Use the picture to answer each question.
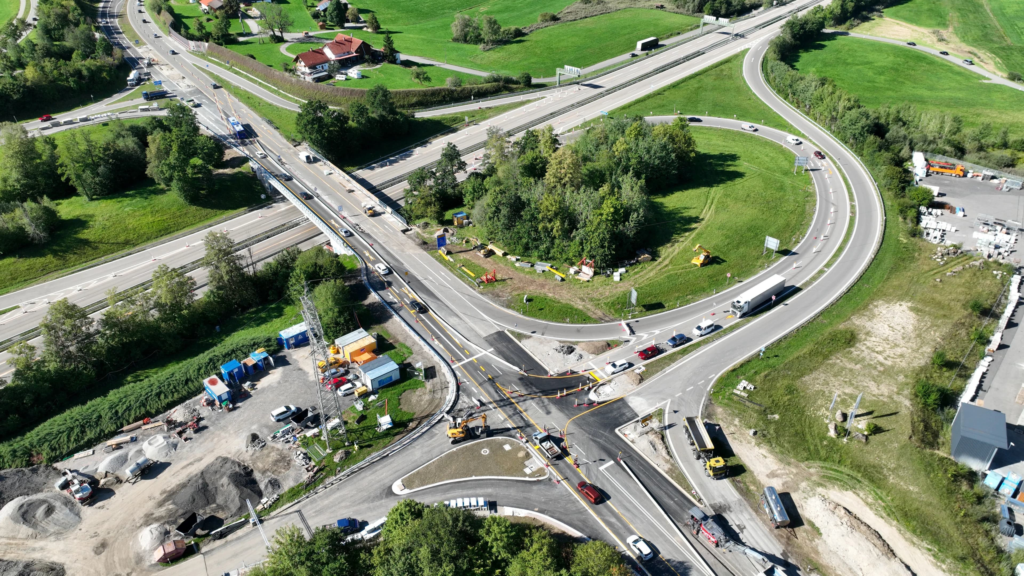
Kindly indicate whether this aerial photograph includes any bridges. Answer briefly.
Yes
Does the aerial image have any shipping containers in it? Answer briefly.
Yes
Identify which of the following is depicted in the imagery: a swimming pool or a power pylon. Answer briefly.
power pylon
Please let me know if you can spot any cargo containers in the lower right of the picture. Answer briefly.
No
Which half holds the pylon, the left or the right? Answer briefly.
left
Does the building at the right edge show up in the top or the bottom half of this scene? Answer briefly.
bottom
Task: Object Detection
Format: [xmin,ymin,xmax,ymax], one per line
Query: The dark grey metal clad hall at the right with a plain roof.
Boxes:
[952,397,1012,472]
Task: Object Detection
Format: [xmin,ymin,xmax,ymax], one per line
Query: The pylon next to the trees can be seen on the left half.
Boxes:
[306,285,356,460]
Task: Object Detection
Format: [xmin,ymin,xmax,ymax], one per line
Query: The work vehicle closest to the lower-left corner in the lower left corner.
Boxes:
[59,456,91,500]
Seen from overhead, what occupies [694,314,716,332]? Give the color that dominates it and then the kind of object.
white vehicle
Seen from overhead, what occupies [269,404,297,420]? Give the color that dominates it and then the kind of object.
white car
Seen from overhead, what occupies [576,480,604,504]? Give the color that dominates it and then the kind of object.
red car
